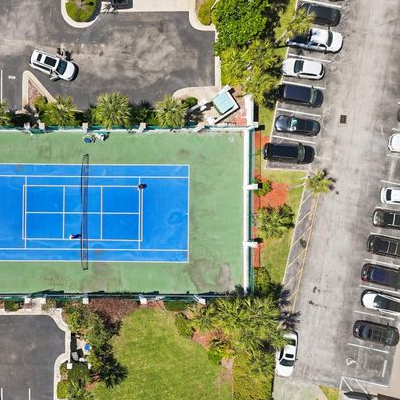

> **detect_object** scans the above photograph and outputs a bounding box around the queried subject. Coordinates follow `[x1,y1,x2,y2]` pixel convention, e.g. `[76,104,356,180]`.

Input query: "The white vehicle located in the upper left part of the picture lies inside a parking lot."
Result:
[30,50,76,85]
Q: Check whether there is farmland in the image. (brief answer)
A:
No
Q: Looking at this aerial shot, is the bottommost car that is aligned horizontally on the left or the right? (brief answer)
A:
right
